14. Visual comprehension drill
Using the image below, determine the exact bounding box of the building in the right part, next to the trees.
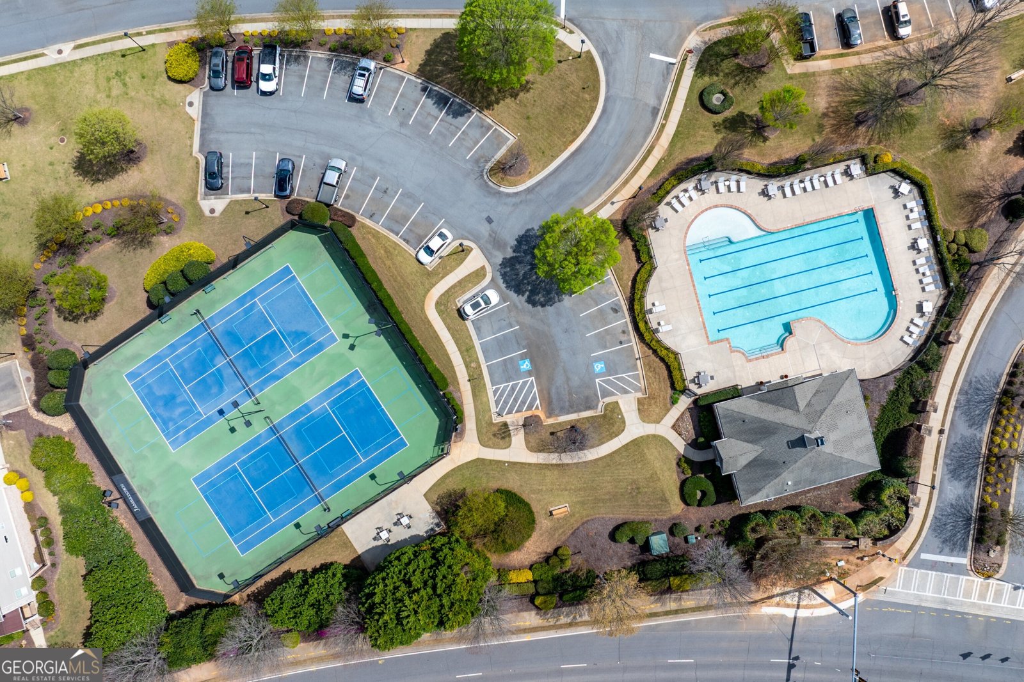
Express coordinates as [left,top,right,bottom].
[709,368,881,506]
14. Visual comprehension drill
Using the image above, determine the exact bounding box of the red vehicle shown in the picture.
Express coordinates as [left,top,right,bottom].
[232,44,254,88]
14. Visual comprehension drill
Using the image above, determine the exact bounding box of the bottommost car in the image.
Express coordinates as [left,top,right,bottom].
[459,290,499,322]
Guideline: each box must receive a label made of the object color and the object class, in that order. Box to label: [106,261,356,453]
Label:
blue tennis court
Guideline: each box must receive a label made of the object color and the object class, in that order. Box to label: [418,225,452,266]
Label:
white car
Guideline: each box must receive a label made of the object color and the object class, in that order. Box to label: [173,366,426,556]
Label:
blue tennis court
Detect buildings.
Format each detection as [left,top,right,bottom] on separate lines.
[0,476,51,639]
[709,368,881,506]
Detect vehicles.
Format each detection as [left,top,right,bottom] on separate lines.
[207,46,228,90]
[796,9,818,58]
[274,158,295,198]
[203,150,224,191]
[232,44,254,88]
[257,43,280,95]
[351,58,375,102]
[317,156,345,206]
[418,225,452,266]
[459,290,499,322]
[886,0,912,40]
[836,7,860,49]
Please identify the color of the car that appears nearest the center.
white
